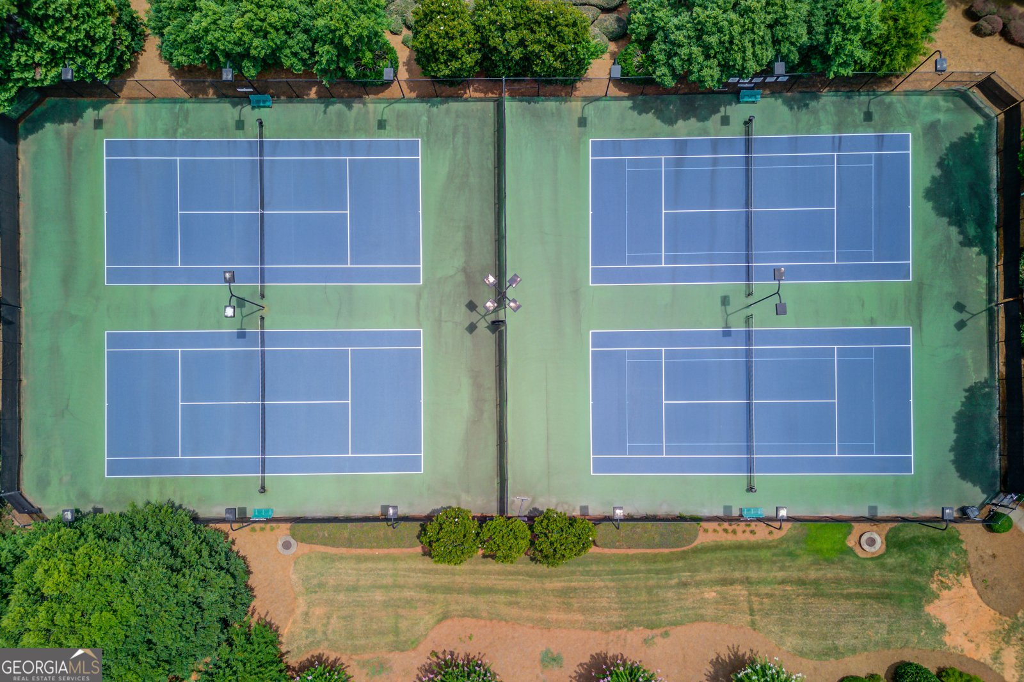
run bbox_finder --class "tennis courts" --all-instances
[104,329,423,478]
[590,327,914,476]
[104,138,422,285]
[590,133,912,285]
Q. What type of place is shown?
sports ground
